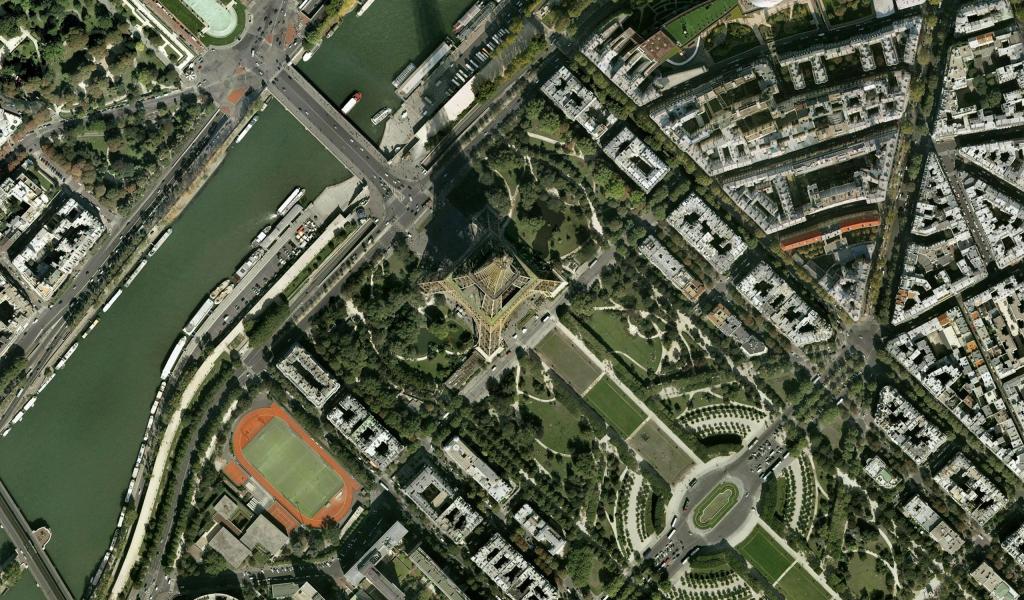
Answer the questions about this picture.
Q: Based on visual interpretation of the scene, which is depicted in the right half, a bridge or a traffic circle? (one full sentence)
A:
Looking in the right half, you will find a traffic circle.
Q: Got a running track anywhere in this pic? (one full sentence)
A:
Yes, the picture does show a running track.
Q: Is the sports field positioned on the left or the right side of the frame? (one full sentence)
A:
The sports field is on the left side of the image.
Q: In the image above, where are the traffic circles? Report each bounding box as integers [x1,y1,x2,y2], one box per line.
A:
[685,468,747,538]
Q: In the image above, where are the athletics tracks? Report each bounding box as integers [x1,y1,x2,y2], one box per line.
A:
[233,402,362,526]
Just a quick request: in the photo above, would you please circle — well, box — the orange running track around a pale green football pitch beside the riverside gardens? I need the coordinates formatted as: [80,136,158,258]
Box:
[233,402,362,526]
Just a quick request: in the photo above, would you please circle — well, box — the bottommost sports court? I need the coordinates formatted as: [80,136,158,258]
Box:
[266,499,301,534]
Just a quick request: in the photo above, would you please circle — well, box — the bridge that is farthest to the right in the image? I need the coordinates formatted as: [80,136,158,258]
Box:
[268,66,378,177]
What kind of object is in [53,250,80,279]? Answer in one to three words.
building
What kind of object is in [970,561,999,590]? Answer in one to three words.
building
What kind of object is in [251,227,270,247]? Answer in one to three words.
boat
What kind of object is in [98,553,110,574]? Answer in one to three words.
boat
